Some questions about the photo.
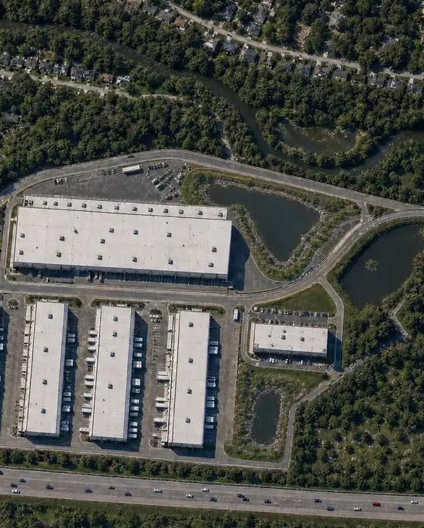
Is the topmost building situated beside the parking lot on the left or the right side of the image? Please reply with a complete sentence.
It is on the left.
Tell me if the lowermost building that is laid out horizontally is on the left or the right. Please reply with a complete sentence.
It is on the right.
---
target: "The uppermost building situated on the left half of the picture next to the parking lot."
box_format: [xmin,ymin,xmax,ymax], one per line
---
[13,196,232,281]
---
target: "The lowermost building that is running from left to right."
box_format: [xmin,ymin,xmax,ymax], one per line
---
[251,324,328,357]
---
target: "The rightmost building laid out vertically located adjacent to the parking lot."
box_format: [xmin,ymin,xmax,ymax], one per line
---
[161,311,214,448]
